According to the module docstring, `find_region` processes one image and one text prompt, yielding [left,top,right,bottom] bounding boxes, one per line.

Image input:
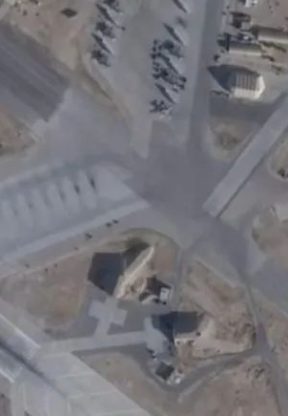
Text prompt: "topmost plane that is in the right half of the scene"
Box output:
[165,40,183,57]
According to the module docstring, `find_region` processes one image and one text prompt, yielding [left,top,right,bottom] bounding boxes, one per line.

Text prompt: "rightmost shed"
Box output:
[259,26,288,41]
